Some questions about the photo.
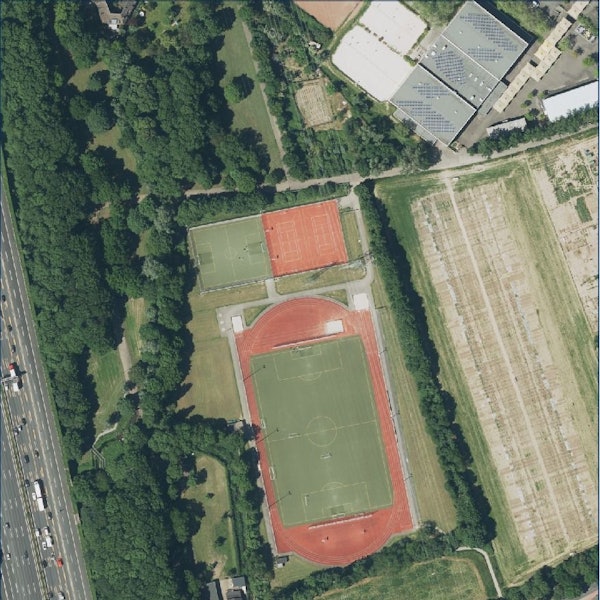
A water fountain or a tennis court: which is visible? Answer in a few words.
tennis court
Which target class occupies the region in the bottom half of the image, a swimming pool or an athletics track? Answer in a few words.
athletics track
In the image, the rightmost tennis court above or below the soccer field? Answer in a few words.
above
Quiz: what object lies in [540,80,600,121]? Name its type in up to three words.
building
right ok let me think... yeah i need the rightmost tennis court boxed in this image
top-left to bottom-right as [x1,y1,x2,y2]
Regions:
[262,200,347,276]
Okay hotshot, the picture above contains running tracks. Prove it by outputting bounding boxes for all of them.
[234,296,413,566]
